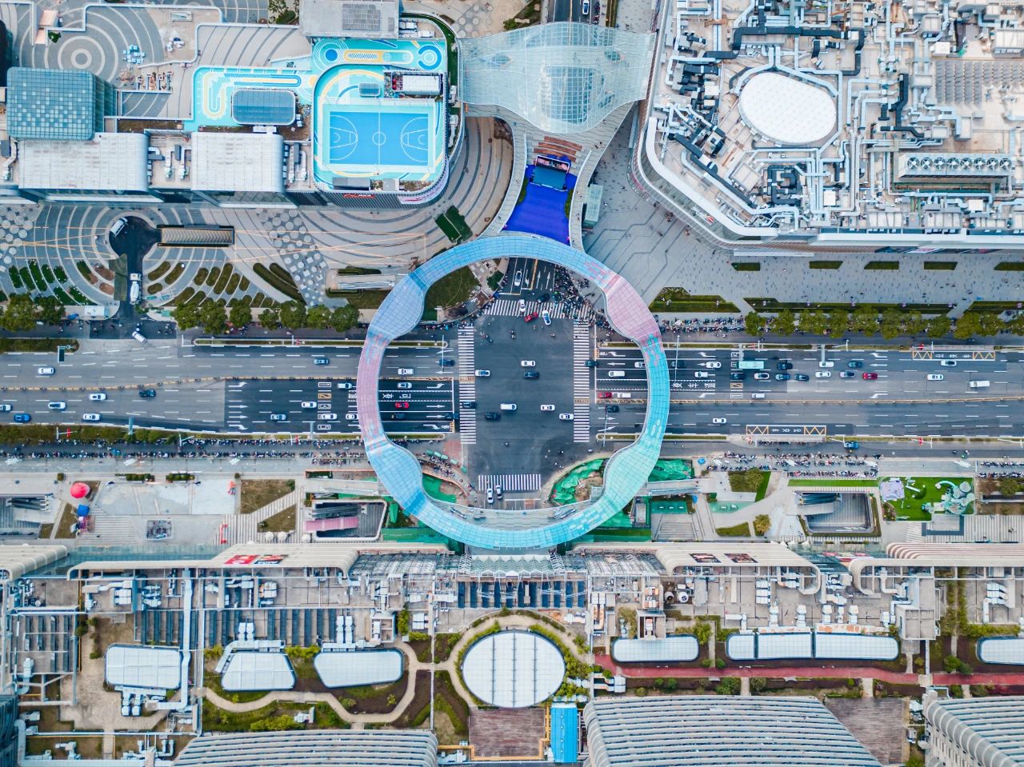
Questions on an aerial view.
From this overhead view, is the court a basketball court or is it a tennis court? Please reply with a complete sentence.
Looking closely, the court is a basketball court.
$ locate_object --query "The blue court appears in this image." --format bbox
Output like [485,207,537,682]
[321,98,437,175]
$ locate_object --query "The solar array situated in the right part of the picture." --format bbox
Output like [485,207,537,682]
[936,61,1024,104]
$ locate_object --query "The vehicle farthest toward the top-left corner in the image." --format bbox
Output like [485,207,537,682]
[110,219,125,235]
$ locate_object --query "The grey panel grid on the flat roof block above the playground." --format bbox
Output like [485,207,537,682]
[343,4,380,30]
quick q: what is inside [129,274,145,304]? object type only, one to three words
vehicle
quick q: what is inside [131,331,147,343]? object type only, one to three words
vehicle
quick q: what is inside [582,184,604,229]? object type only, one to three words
building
